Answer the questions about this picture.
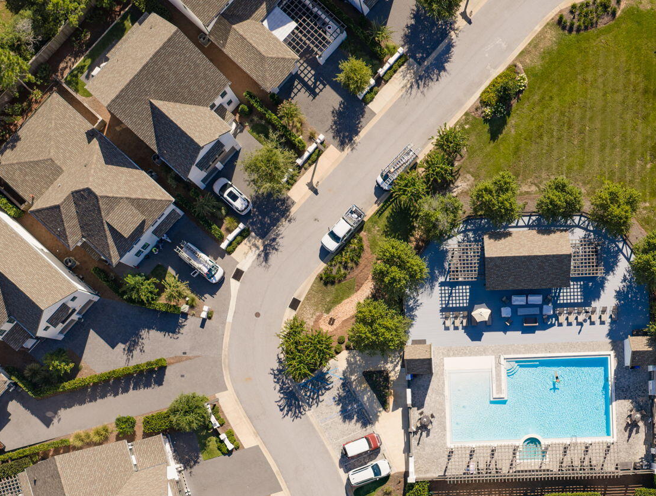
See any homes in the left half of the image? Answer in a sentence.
Yes, there is a home in the left half of the image.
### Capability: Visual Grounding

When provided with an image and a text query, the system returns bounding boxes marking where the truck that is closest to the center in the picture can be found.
[320,200,369,252]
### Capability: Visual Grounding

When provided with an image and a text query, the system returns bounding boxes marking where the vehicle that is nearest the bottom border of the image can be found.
[347,460,392,486]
